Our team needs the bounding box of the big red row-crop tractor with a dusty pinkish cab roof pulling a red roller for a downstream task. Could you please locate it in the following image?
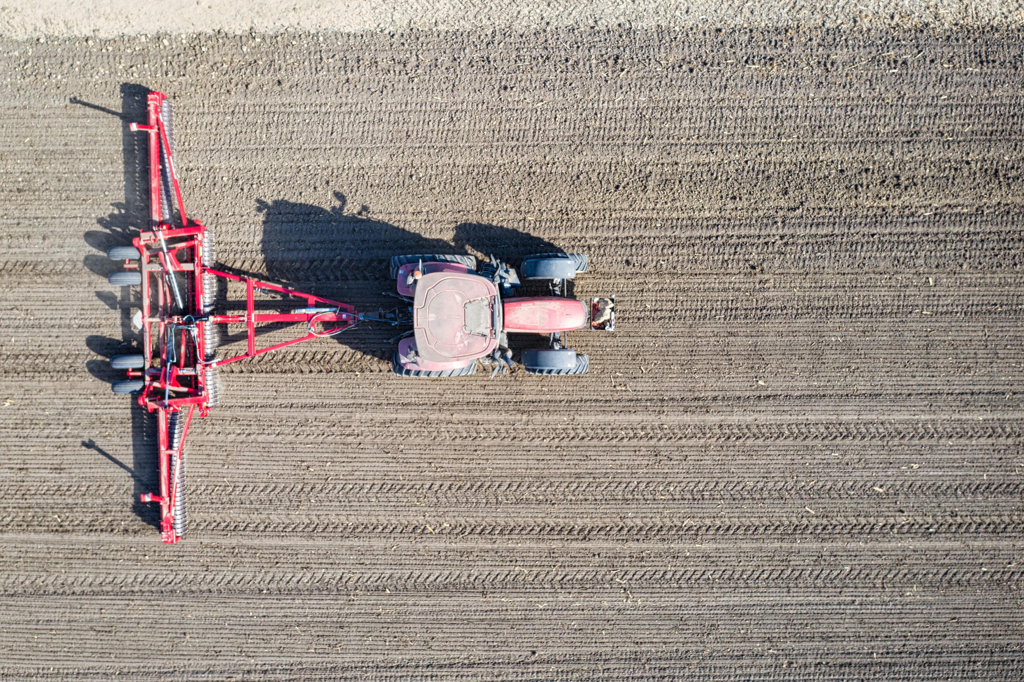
[364,250,614,380]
